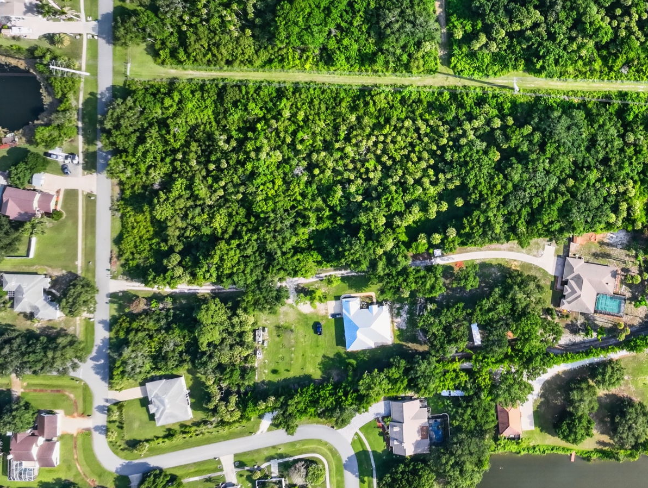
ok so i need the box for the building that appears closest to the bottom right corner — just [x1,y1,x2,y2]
[498,399,522,439]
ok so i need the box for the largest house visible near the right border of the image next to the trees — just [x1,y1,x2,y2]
[560,256,618,313]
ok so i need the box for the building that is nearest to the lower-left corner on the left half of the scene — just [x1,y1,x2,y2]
[10,413,61,466]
